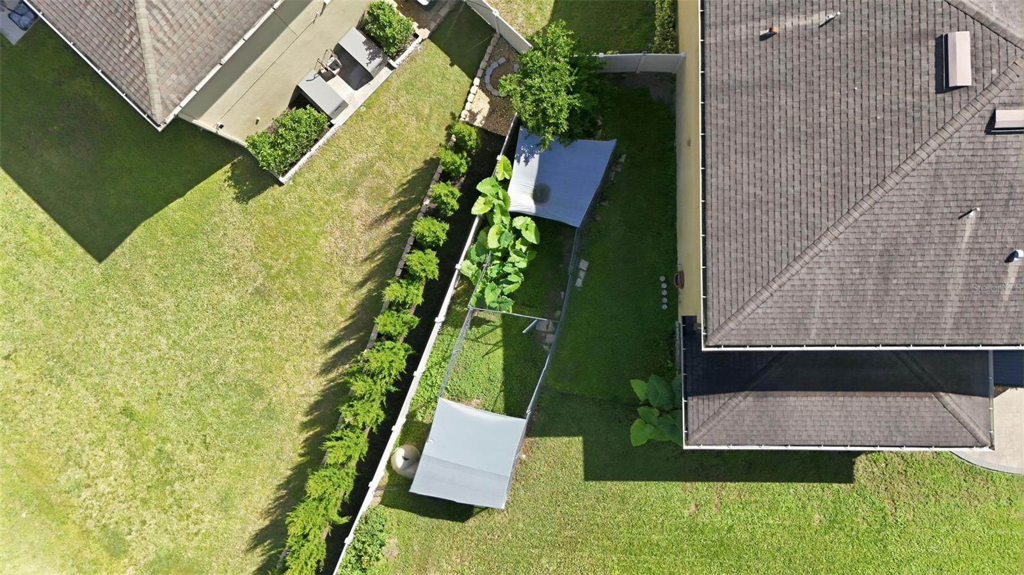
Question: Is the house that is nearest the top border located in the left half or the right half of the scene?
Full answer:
You can find the house that is nearest the top border on the left side of the picture.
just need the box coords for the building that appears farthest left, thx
[23,0,384,149]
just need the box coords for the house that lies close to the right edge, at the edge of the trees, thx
[677,0,1024,452]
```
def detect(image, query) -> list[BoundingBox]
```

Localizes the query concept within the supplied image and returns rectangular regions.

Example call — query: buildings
[677,0,1024,452]
[23,0,384,149]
